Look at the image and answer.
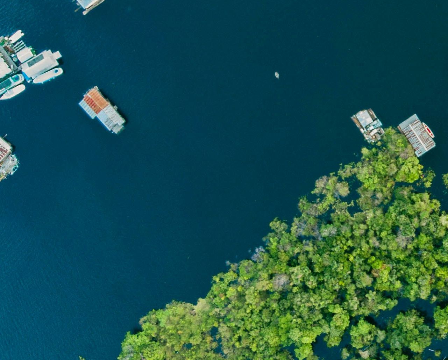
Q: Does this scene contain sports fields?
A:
No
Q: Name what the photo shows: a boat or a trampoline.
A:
boat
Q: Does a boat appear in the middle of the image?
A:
No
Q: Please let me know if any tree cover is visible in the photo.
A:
Yes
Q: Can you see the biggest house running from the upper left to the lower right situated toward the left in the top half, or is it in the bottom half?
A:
top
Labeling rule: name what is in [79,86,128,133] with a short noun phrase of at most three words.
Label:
house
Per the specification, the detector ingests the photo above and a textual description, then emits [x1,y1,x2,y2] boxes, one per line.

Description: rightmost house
[398,114,437,156]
